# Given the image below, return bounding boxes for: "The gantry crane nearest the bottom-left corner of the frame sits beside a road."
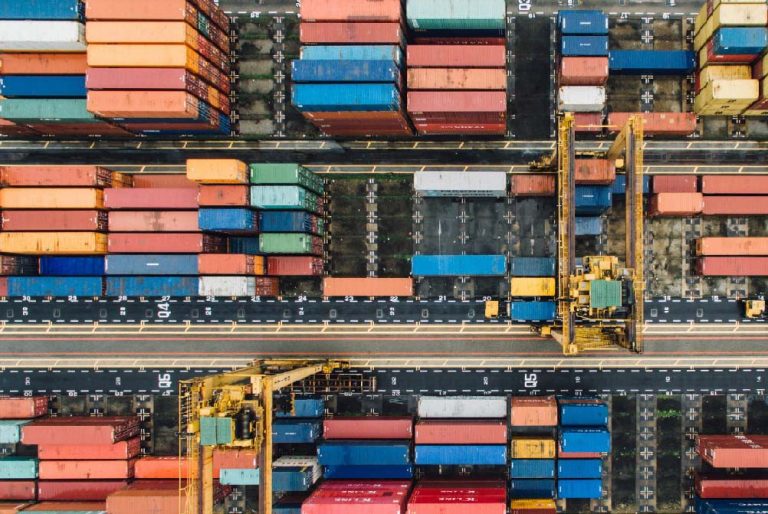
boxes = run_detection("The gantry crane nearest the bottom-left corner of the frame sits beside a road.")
[170,360,358,514]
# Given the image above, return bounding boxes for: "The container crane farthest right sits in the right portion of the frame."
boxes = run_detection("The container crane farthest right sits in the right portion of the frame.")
[523,111,646,355]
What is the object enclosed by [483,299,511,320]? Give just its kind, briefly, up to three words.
vehicle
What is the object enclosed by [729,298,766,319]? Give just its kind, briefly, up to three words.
vehicle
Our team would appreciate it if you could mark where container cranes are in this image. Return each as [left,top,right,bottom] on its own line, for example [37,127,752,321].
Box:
[523,111,646,355]
[170,360,358,514]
